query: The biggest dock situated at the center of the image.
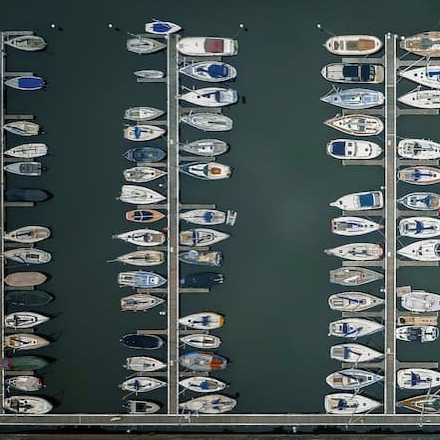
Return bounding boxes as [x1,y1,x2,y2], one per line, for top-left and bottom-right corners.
[138,33,222,414]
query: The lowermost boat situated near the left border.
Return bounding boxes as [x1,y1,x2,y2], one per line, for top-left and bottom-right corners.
[3,393,53,414]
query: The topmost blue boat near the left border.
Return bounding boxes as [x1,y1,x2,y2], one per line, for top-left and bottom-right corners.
[1,76,53,91]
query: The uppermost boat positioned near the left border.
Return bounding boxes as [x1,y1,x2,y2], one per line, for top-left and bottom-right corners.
[2,34,50,54]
